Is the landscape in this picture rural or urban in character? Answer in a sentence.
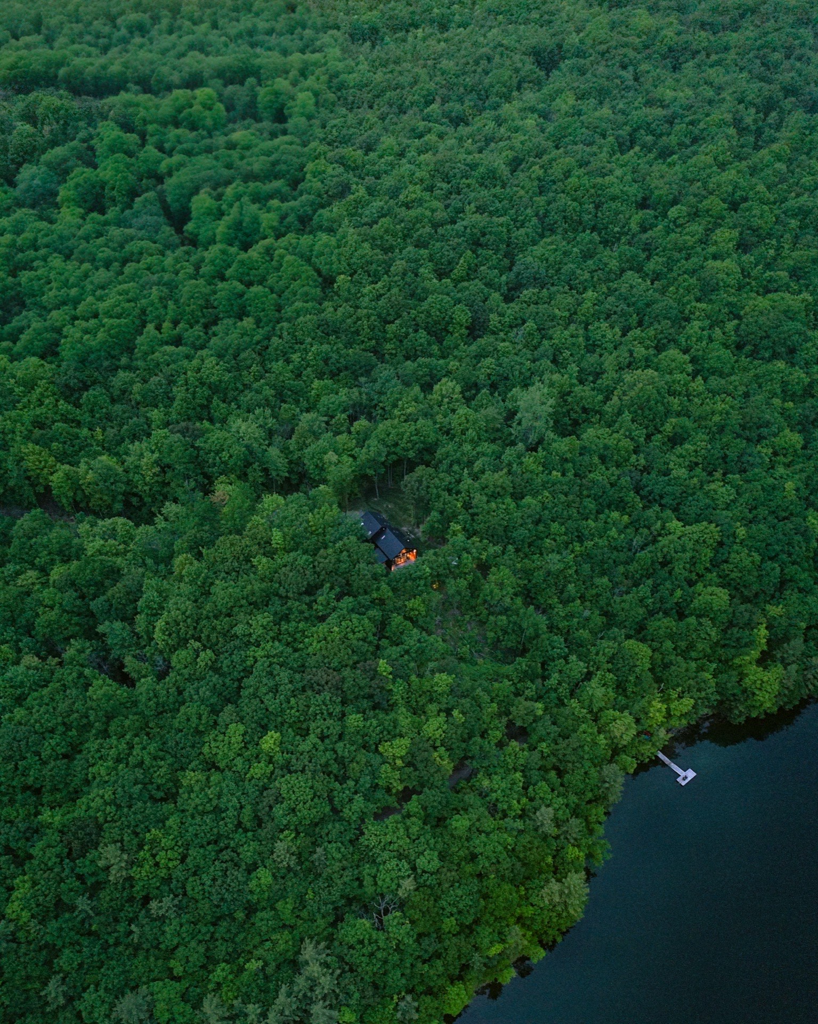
The area is rural.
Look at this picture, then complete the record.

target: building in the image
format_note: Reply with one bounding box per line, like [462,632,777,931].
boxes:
[360,511,418,571]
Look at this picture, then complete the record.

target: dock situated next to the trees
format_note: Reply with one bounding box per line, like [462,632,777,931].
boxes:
[652,745,696,786]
